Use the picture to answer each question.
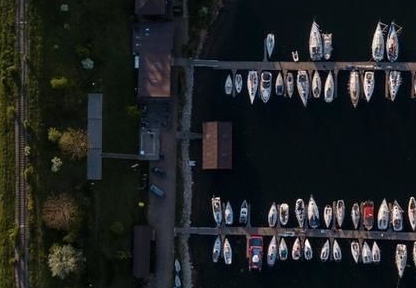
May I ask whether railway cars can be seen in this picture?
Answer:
No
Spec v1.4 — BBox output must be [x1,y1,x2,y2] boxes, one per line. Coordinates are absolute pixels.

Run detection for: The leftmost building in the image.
[88,95,105,180]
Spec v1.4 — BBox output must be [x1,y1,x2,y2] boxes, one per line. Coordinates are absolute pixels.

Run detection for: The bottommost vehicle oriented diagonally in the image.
[149,182,166,197]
